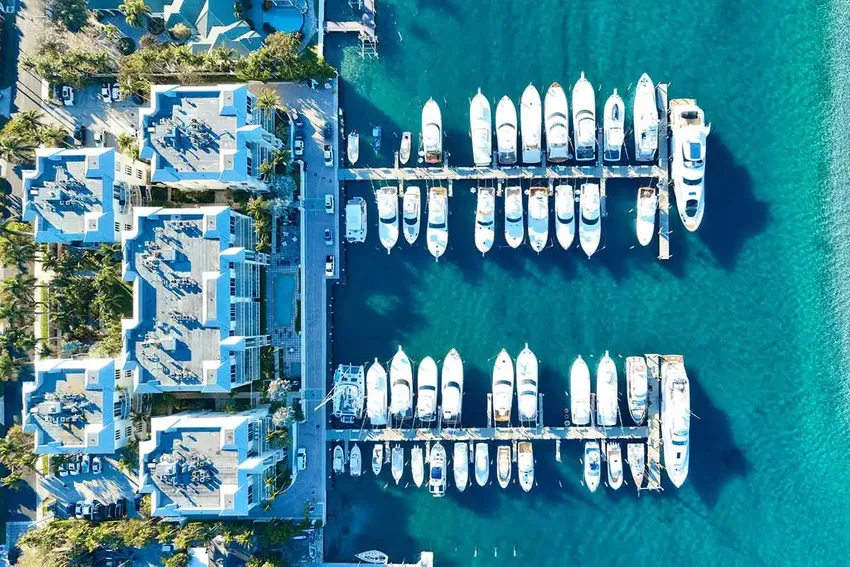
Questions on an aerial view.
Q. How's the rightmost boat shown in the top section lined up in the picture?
up and down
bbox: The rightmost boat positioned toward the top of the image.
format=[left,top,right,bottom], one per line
[665,101,720,231]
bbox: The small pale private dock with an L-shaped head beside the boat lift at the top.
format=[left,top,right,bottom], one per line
[325,0,375,39]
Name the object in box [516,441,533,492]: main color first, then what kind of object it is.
white boat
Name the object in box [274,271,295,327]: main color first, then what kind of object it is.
blue swimming pool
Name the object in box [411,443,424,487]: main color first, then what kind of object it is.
white boat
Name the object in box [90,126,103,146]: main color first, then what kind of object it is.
white vehicle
